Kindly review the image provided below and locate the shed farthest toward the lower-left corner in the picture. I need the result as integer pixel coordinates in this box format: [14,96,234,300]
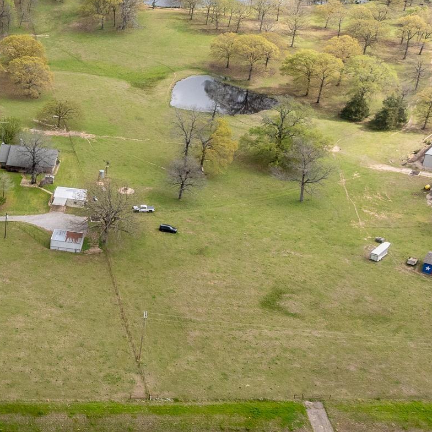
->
[51,226,85,251]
